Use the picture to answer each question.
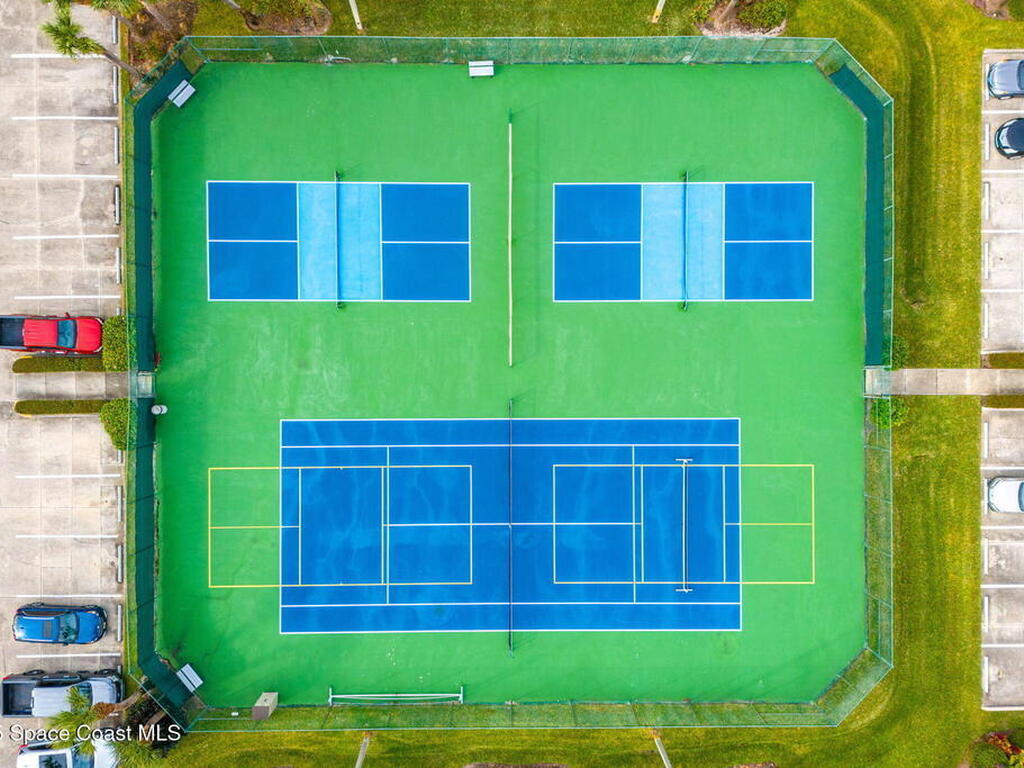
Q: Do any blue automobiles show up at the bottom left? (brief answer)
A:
Yes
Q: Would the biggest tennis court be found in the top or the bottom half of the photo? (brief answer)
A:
bottom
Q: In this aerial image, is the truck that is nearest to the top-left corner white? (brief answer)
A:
No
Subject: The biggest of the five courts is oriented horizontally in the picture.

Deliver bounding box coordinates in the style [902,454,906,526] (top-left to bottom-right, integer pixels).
[280,418,742,634]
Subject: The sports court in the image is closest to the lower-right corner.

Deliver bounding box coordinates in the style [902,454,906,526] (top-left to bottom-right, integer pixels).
[553,464,815,584]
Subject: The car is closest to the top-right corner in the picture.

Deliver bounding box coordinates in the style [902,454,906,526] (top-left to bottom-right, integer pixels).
[984,58,1024,103]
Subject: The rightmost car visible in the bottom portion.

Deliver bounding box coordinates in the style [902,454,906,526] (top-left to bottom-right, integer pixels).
[986,477,1024,514]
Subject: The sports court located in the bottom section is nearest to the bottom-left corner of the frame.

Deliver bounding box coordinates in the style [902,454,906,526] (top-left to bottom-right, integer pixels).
[208,465,472,588]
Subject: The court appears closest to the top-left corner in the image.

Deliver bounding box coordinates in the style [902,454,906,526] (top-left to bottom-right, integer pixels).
[206,181,471,302]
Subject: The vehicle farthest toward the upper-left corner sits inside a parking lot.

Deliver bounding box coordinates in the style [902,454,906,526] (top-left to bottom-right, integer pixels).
[0,310,106,353]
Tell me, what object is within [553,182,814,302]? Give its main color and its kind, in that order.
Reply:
blue sports court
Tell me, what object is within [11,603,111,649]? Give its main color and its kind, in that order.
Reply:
blue car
